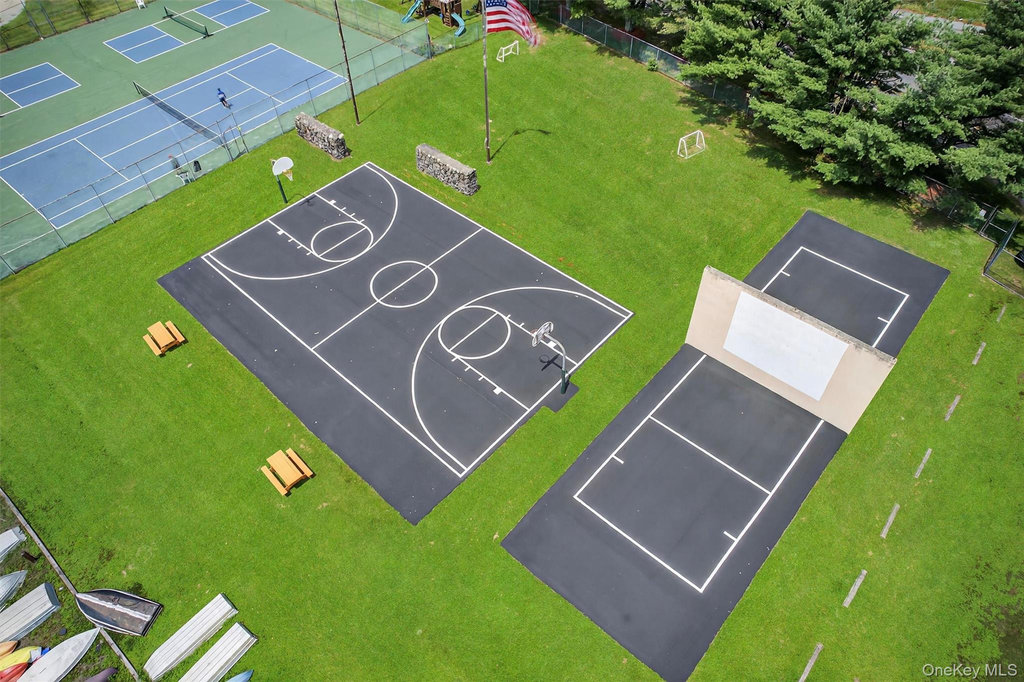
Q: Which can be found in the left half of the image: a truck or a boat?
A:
boat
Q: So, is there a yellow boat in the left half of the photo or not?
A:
Yes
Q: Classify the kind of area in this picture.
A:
sports ground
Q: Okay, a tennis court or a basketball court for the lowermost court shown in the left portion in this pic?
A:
basketball court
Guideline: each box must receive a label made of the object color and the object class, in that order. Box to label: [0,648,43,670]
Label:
yellow boat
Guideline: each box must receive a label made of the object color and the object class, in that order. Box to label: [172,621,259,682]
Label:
white boat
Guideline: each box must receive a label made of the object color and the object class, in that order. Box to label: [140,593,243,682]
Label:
white boat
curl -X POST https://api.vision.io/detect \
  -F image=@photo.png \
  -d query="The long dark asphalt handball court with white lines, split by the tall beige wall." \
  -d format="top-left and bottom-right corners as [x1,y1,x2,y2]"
[502,211,950,682]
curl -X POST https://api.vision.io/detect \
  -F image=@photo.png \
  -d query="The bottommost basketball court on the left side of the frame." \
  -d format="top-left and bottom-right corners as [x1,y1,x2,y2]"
[157,160,635,524]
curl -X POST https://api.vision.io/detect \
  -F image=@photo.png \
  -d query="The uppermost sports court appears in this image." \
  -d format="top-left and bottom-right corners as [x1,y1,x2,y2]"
[104,0,269,62]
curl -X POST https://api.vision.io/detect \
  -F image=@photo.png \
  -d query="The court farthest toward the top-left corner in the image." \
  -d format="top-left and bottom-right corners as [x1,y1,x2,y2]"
[0,62,79,117]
